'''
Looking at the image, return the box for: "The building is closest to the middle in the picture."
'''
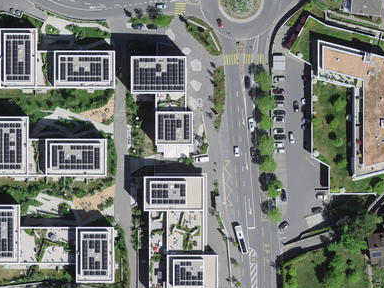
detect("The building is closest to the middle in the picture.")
[156,112,194,144]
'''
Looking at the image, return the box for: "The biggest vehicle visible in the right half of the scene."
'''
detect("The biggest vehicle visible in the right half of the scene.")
[234,224,248,254]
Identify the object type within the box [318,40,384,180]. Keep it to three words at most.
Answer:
building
